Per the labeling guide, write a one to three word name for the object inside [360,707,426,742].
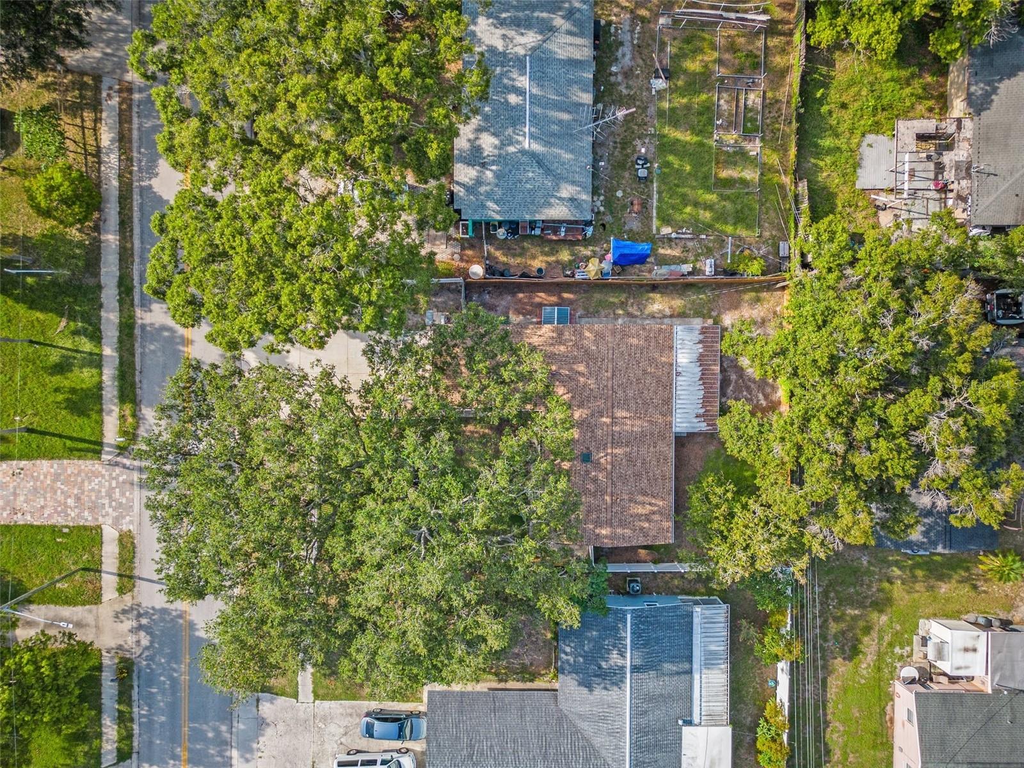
car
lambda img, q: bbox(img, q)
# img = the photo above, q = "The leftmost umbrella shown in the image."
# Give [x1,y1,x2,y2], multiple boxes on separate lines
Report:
[586,258,604,281]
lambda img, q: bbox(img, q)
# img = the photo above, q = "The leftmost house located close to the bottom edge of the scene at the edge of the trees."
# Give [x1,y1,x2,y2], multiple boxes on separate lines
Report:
[424,594,734,768]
